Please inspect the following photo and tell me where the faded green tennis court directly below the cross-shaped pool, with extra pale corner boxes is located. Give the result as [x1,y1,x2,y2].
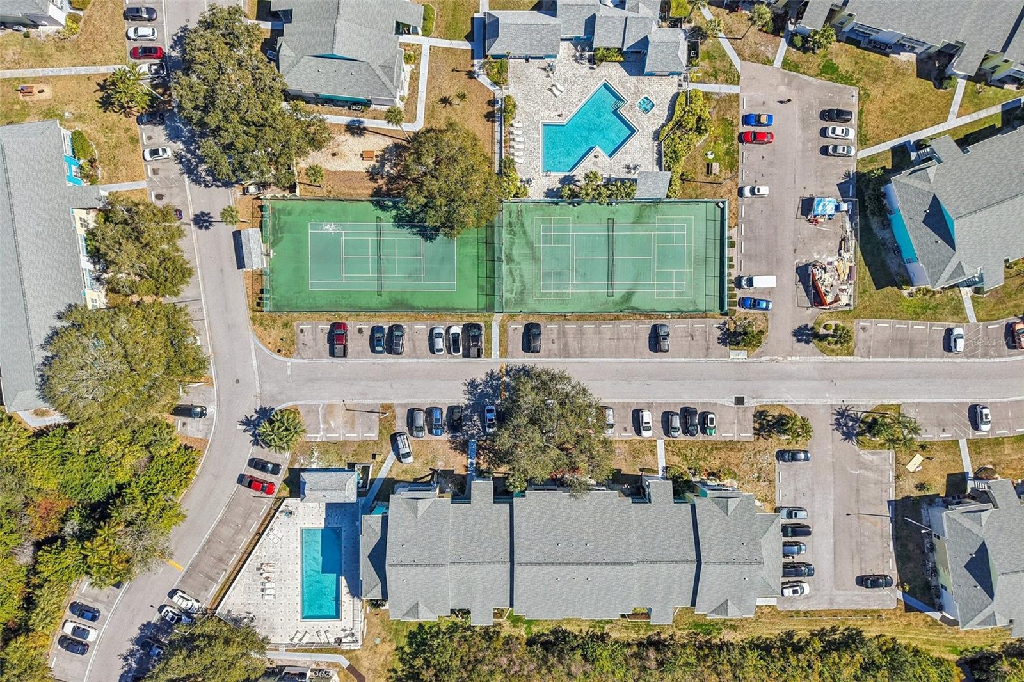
[503,202,723,312]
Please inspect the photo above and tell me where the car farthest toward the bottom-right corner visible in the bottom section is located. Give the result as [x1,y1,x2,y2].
[862,574,892,588]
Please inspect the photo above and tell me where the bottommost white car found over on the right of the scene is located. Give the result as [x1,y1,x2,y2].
[781,582,809,597]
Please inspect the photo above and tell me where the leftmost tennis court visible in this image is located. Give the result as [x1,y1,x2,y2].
[269,200,494,312]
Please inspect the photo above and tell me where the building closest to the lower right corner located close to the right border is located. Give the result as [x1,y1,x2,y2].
[926,475,1024,637]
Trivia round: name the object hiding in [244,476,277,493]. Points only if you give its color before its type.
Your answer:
red car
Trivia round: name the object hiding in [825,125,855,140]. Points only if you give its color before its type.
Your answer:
white car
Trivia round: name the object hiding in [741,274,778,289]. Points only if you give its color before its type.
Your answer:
white vehicle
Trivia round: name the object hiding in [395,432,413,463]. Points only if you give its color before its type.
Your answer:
white car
